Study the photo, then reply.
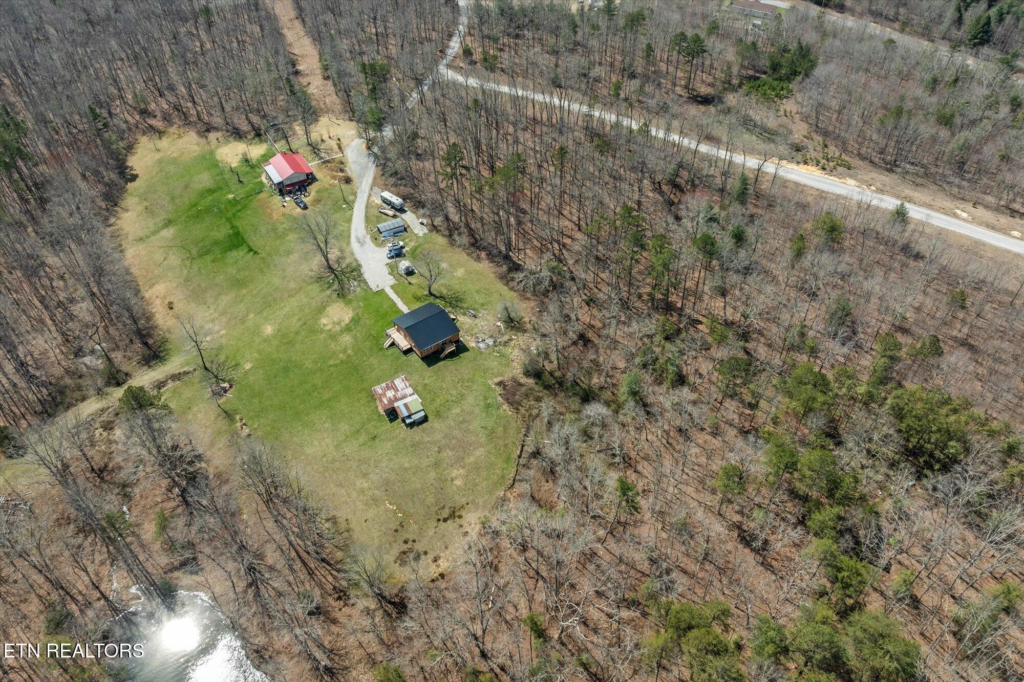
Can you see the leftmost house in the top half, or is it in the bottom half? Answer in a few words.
top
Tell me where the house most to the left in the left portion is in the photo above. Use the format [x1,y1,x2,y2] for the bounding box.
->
[262,149,315,196]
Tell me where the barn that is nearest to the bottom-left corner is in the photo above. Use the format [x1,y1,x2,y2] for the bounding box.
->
[372,375,424,425]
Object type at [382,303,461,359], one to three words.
house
